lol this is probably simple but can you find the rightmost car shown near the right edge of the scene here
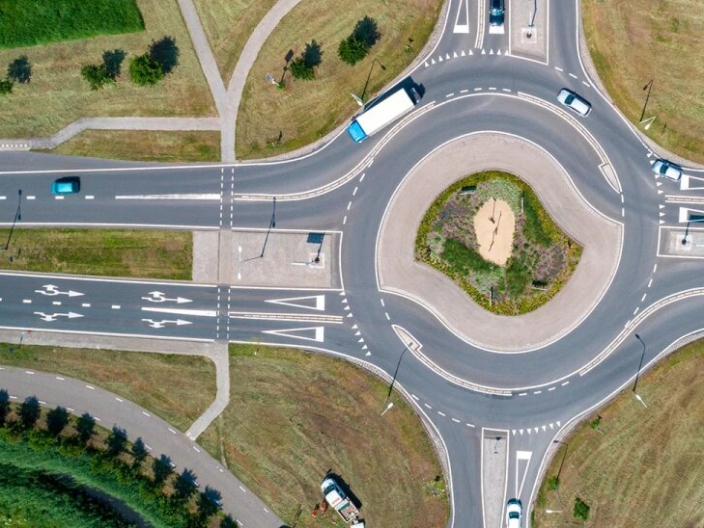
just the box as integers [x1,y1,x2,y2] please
[650,161,682,183]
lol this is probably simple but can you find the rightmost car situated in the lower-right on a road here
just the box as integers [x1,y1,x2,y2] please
[507,502,521,528]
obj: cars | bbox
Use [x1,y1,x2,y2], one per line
[556,91,590,116]
[650,161,682,183]
[52,180,80,194]
[488,0,504,25]
[507,502,521,528]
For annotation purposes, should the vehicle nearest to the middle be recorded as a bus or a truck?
truck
